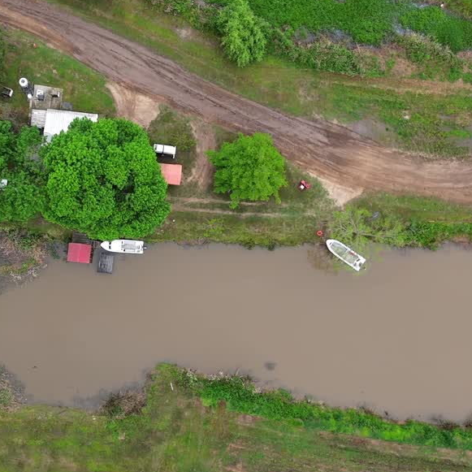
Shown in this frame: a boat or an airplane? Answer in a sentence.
I can see a boat in this picture.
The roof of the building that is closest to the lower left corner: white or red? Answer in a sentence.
In this view, the roof of the building that is closest to the lower left corner is red.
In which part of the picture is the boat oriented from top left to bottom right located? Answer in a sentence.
The boat oriented from top left to bottom right appears toward the right of the photo.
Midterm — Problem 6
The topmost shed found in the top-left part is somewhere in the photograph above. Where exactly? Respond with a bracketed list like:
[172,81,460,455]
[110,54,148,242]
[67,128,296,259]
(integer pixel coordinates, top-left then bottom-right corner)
[32,84,65,112]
